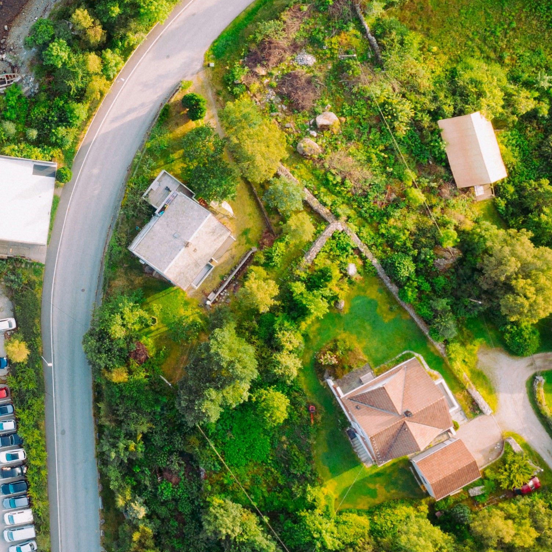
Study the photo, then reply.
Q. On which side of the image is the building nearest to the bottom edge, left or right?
right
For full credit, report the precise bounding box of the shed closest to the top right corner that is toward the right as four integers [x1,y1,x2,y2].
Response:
[433,111,507,201]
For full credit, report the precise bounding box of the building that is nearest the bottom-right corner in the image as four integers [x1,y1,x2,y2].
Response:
[411,437,481,500]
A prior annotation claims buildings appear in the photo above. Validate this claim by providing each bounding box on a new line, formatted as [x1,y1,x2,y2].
[128,170,251,291]
[322,356,461,466]
[0,155,58,263]
[433,111,507,201]
[411,437,481,500]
